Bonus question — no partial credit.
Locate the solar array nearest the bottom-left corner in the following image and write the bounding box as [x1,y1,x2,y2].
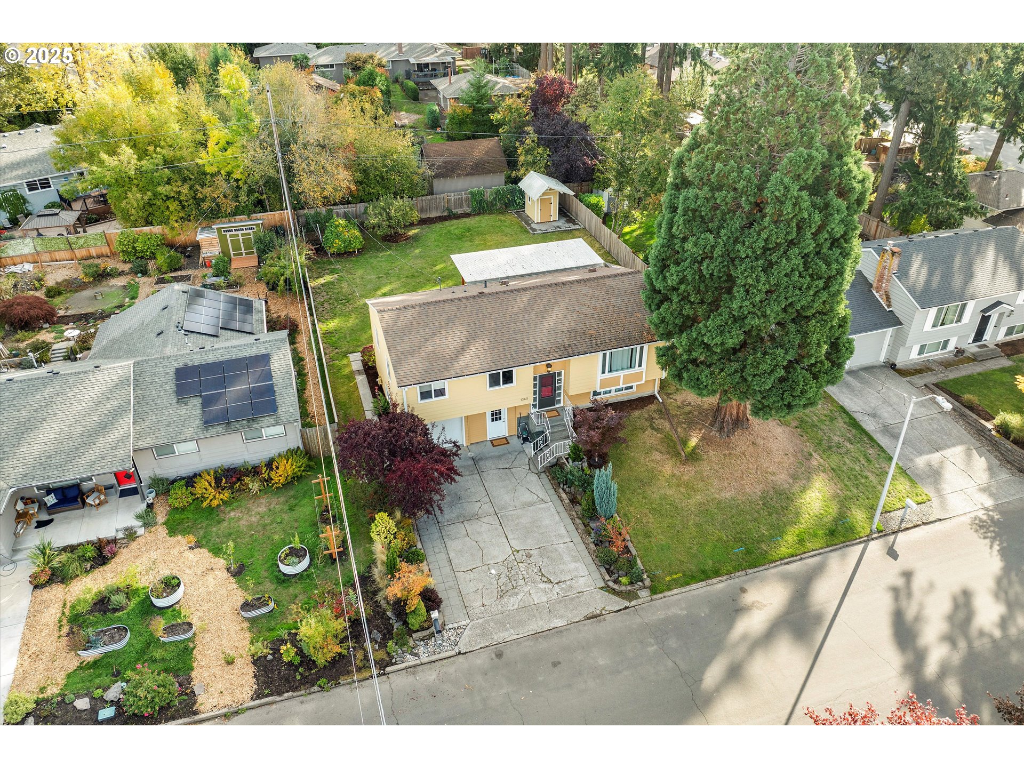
[176,352,276,424]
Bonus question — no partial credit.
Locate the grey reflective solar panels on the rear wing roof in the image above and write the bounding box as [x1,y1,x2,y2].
[184,290,254,335]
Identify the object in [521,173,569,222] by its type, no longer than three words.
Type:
shed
